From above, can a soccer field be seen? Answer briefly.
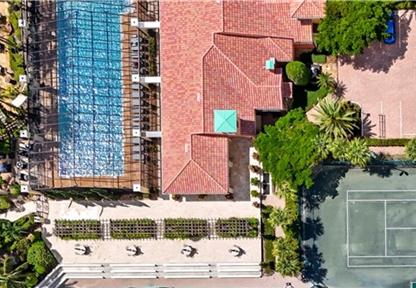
No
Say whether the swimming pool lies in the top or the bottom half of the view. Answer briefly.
top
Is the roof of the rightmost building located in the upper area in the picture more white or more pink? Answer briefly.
pink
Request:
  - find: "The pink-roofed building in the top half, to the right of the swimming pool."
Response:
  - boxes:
[159,0,327,196]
